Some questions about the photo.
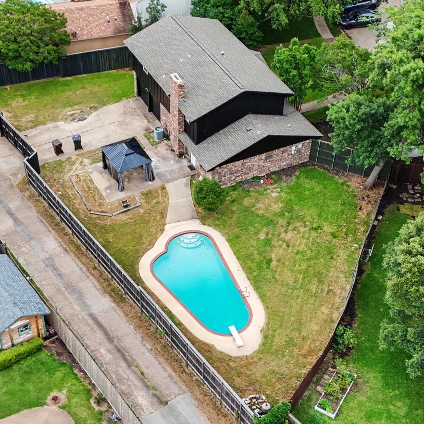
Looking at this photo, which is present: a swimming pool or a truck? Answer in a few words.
swimming pool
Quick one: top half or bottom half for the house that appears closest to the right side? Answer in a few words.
top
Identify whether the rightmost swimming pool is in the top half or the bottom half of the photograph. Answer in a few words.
bottom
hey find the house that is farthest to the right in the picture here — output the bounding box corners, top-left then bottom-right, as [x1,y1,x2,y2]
[124,15,323,190]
